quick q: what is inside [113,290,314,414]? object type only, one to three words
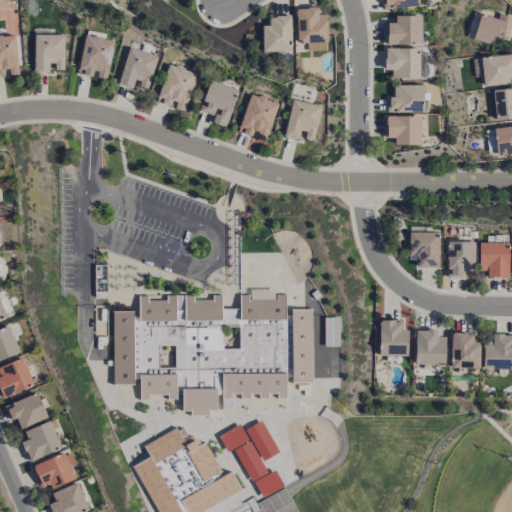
building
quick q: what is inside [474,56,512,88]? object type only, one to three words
house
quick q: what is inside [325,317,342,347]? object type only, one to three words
shed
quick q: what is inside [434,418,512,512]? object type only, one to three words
baseball field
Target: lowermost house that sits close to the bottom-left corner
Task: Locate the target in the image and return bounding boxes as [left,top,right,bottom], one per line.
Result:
[50,482,92,512]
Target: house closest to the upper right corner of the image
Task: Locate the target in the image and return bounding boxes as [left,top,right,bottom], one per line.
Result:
[470,10,512,52]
